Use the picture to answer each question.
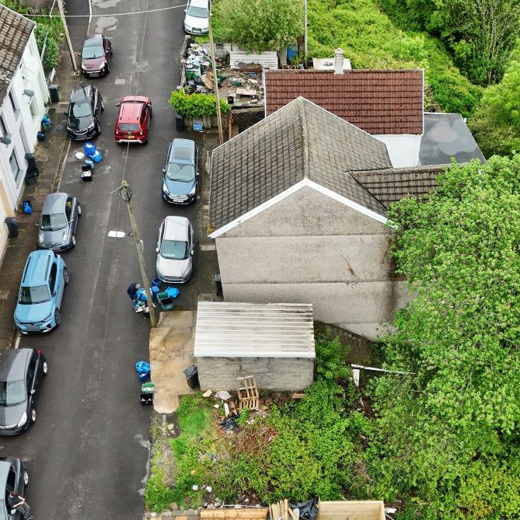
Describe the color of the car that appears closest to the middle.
white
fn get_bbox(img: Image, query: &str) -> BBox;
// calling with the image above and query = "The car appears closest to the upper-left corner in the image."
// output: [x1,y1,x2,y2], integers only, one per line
[80,37,114,77]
